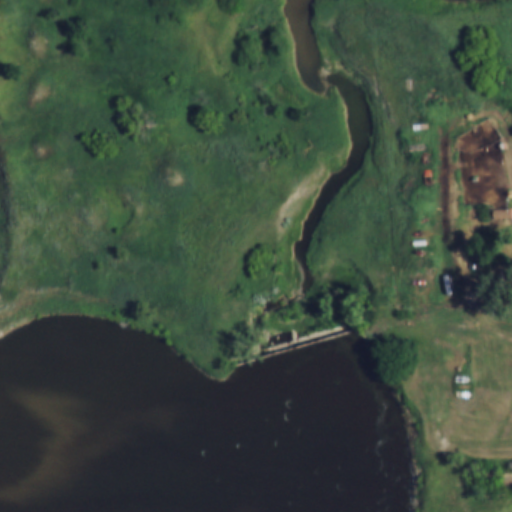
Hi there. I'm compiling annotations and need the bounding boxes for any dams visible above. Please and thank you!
[262,325,352,356]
